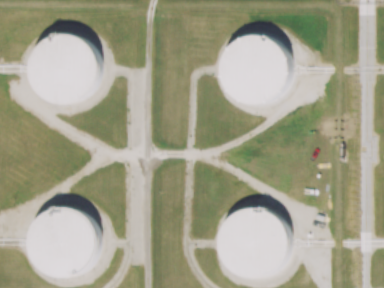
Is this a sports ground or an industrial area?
industrial area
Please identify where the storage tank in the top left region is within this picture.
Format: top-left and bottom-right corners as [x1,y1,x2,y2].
[28,34,104,106]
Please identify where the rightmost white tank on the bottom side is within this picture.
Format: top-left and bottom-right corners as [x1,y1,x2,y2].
[216,206,292,280]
